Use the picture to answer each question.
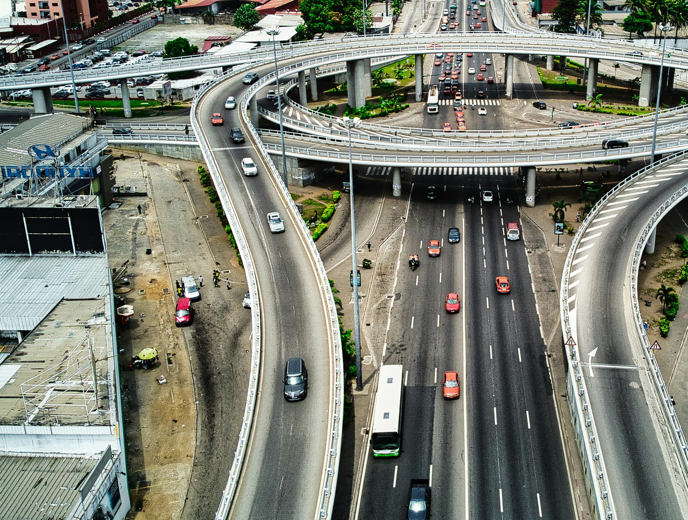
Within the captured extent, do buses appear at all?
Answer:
Yes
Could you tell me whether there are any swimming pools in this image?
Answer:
No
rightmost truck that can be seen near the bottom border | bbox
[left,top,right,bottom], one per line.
[403,476,430,520]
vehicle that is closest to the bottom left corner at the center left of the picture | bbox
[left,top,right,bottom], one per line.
[169,300,195,329]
